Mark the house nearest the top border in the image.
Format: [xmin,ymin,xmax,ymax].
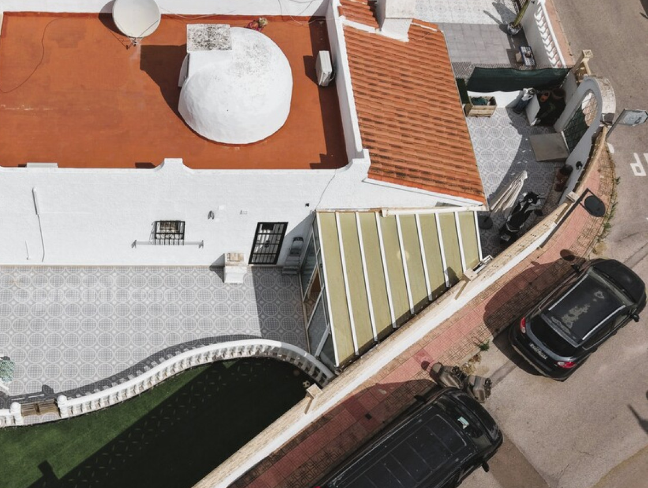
[0,0,490,265]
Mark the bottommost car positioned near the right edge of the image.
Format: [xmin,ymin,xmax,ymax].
[520,253,648,372]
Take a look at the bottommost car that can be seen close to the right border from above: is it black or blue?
black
